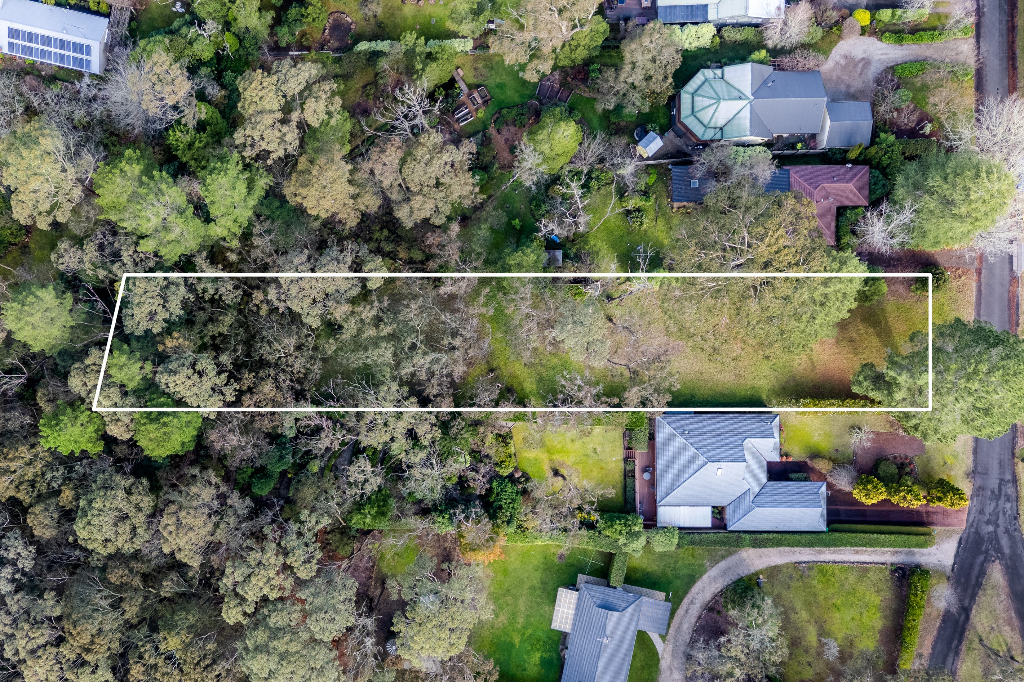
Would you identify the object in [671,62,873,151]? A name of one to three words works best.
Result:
house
